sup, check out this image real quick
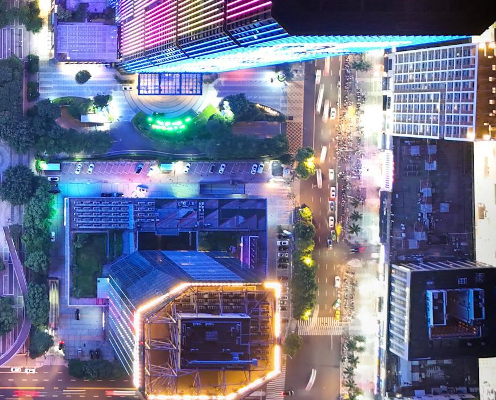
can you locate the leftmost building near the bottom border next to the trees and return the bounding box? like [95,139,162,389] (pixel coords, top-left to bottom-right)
[106,244,284,400]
